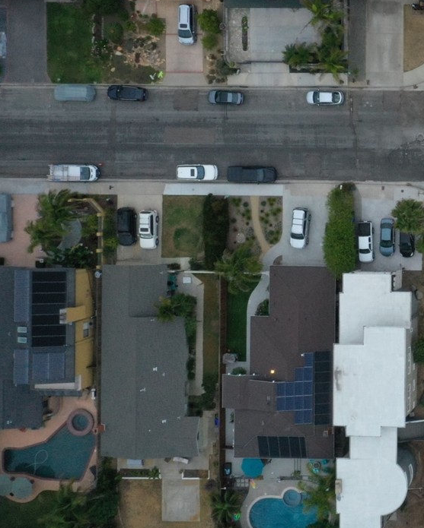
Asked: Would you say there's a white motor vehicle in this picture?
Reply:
Yes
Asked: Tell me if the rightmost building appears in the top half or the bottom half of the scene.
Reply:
bottom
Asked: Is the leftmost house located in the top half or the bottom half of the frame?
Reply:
bottom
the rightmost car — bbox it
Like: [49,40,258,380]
[398,229,416,260]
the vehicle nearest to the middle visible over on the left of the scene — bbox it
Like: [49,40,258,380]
[140,210,160,247]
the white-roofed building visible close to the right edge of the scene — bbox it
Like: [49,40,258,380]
[333,266,424,528]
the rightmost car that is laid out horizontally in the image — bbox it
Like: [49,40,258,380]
[308,89,344,106]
